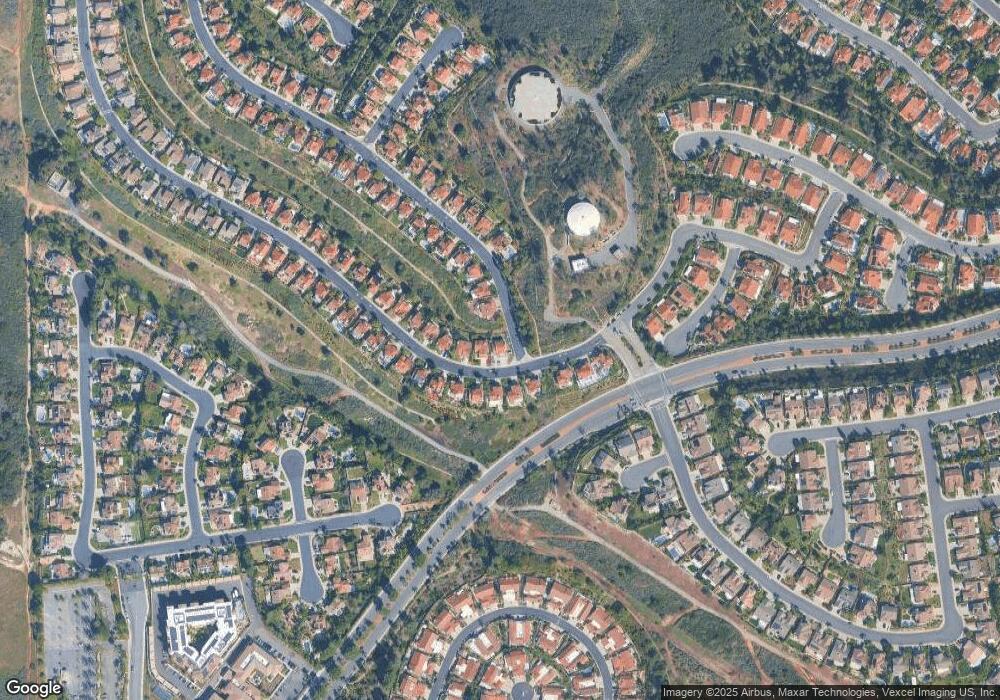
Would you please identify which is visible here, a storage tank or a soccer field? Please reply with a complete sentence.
There is a storage tank in the scene.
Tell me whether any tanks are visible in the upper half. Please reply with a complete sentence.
Yes, a tank is visible in the upper half.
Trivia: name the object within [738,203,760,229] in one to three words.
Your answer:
house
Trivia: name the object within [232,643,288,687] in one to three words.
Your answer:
building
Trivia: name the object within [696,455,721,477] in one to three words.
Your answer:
house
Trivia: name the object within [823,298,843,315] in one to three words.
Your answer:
swimming pool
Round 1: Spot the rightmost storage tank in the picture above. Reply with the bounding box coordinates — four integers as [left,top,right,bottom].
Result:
[567,202,602,235]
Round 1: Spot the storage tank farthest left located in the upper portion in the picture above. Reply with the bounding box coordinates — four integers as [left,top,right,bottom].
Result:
[504,63,559,126]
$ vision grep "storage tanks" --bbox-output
[567,202,602,235]
[504,63,559,126]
